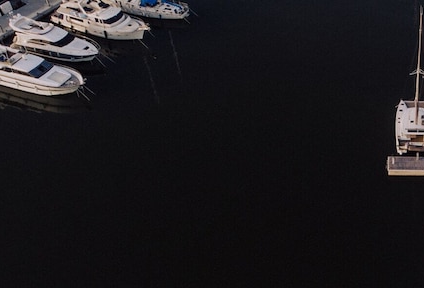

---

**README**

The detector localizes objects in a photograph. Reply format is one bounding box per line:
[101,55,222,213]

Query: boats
[102,0,192,24]
[0,45,96,97]
[393,2,424,156]
[404,144,424,152]
[1,2,110,62]
[43,0,161,44]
